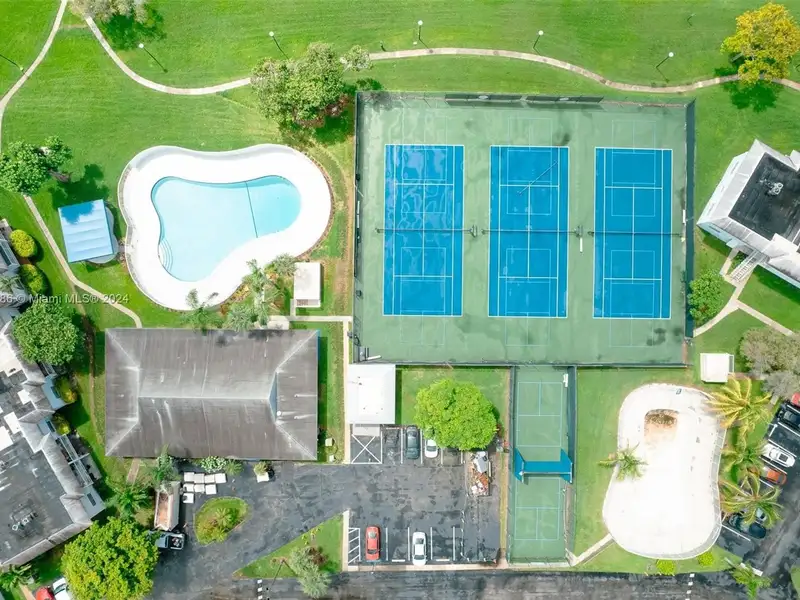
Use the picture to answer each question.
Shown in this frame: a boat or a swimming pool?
swimming pool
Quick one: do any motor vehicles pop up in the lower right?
Yes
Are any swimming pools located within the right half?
No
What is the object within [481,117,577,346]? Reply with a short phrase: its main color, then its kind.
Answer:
blue tennis court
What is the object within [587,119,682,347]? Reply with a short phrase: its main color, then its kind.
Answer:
blue tennis court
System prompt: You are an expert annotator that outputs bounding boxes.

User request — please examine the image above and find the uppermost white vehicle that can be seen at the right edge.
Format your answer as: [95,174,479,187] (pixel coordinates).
[760,442,795,470]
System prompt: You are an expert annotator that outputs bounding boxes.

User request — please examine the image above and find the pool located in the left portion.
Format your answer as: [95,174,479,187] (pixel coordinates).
[122,147,332,309]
